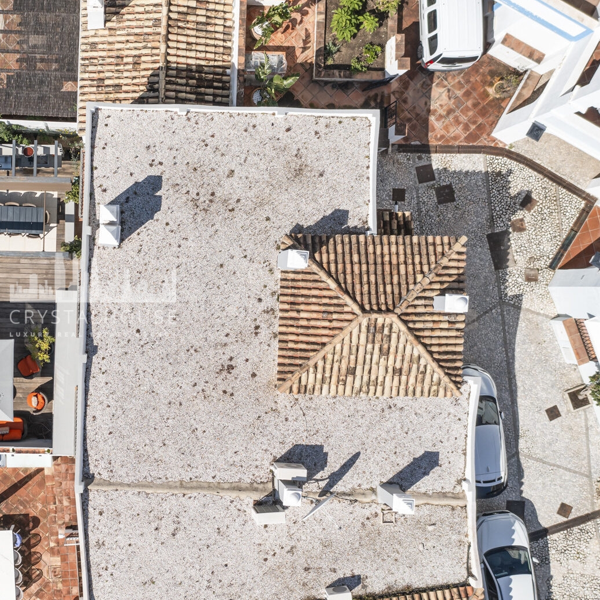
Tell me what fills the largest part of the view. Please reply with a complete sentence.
The bulk of the photo consists of buildings.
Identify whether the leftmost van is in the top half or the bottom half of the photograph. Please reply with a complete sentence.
It is in the top half that the leftmost van appears.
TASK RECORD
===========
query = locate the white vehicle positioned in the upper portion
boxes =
[410,0,485,71]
